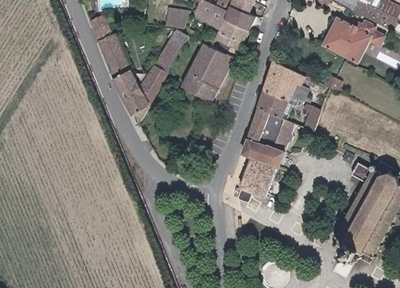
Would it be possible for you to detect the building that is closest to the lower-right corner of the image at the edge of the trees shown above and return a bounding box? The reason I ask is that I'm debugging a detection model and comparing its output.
[332,163,400,278]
